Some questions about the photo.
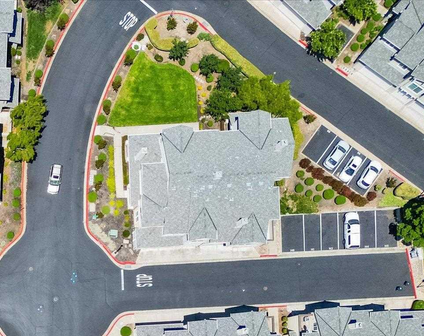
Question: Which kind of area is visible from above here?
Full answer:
This looks like a residential area.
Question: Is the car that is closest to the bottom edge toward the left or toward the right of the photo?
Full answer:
The car that is closest to the bottom edge is on the right side of the image.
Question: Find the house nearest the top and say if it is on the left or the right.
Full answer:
The house nearest the top is on the right side of the image.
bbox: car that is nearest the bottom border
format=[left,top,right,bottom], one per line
[343,212,363,247]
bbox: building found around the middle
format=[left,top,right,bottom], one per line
[126,108,295,250]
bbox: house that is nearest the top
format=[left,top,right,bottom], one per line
[274,0,339,35]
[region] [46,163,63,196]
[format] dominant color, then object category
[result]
white car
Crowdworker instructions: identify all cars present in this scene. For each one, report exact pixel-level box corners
[323,141,349,171]
[338,154,364,183]
[343,212,363,247]
[46,163,63,196]
[356,160,383,191]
